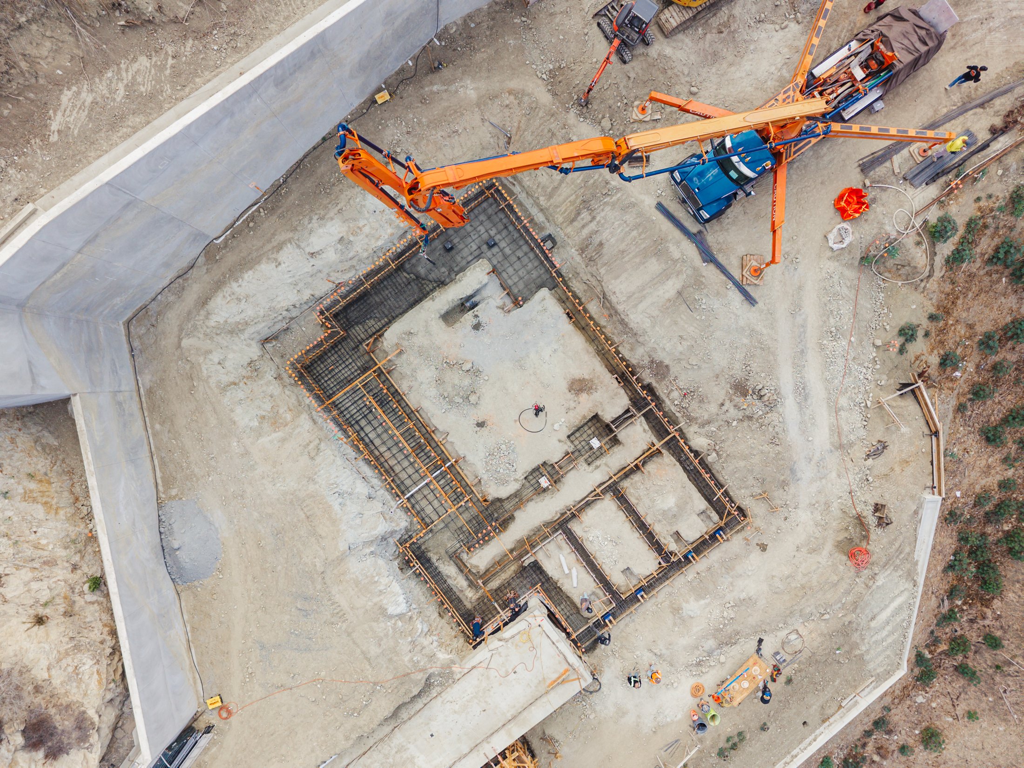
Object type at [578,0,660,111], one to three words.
work vehicle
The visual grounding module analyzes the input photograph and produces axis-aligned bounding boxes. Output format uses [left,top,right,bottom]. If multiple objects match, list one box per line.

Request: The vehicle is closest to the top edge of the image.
[653,0,735,42]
